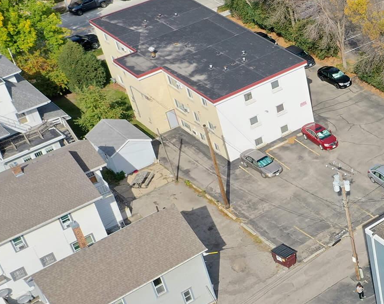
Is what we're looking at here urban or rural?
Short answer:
urban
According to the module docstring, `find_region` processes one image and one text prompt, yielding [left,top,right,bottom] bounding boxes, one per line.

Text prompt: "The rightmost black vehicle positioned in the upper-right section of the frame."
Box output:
[316,66,353,89]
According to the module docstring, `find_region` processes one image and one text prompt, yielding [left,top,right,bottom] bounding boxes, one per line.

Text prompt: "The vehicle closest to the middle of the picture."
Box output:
[240,148,283,178]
